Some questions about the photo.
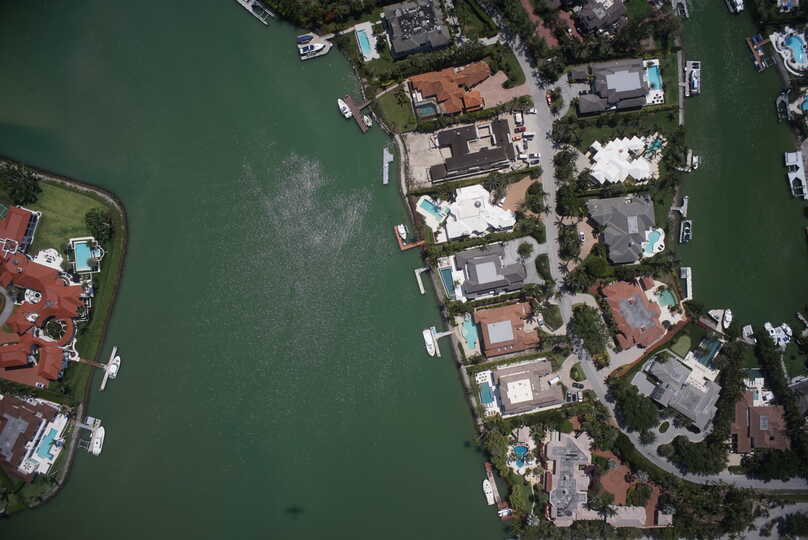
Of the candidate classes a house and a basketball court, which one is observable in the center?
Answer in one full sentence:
Looking in the center, you will find a house.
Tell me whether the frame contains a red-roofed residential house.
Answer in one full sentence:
Yes, there is a red-roofed residential house in the image.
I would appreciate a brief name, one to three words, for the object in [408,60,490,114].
house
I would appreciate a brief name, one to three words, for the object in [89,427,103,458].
boat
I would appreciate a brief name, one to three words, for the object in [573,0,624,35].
house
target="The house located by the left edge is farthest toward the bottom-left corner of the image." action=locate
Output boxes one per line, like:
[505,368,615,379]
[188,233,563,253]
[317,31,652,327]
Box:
[0,394,59,478]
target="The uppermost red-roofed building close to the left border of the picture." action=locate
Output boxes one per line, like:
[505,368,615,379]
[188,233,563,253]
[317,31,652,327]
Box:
[0,207,88,381]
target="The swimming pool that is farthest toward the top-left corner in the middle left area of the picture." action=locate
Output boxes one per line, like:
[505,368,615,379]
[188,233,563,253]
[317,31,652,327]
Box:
[67,237,103,273]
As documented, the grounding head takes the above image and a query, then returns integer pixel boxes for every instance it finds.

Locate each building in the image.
[0,394,59,478]
[428,120,514,180]
[585,196,656,264]
[656,512,672,525]
[0,207,88,381]
[494,359,564,415]
[384,0,451,54]
[442,184,514,241]
[649,348,727,429]
[600,280,664,350]
[590,135,653,184]
[472,301,539,357]
[408,60,490,114]
[546,431,646,527]
[573,0,624,35]
[728,392,790,451]
[572,58,649,115]
[452,245,526,296]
